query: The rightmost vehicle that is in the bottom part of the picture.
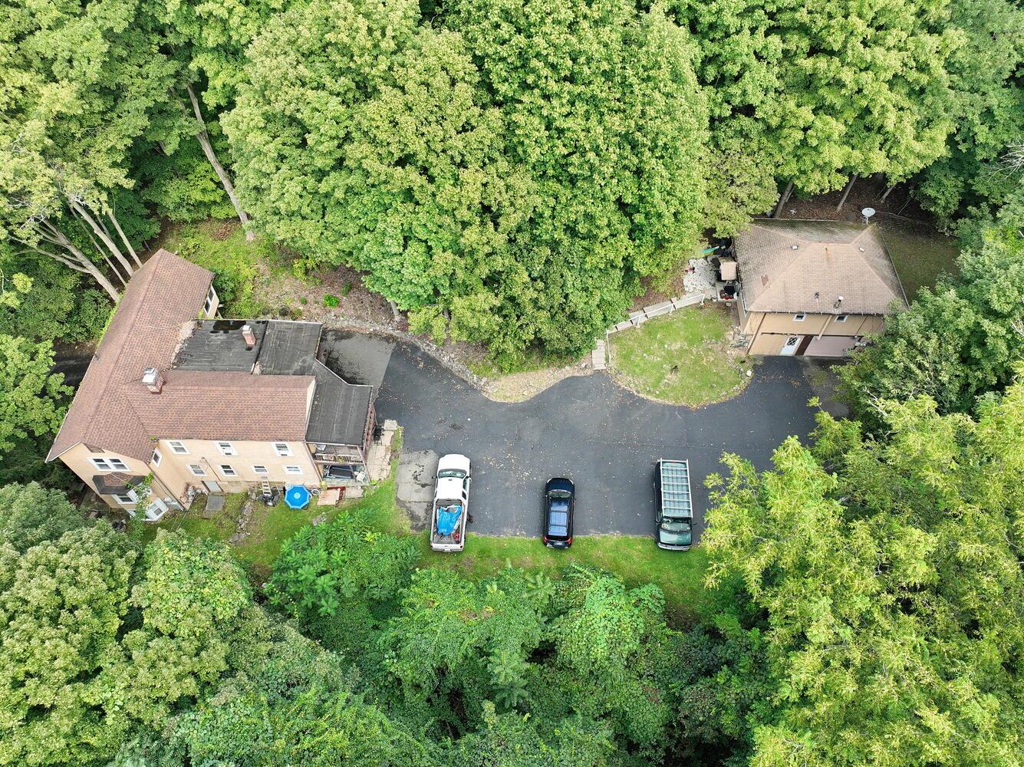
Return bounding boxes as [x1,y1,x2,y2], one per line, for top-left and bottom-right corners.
[653,458,699,552]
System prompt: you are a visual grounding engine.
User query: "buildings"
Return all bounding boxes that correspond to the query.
[727,219,910,358]
[47,249,393,528]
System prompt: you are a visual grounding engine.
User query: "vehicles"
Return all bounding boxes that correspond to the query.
[542,480,579,548]
[653,458,699,552]
[430,455,472,552]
